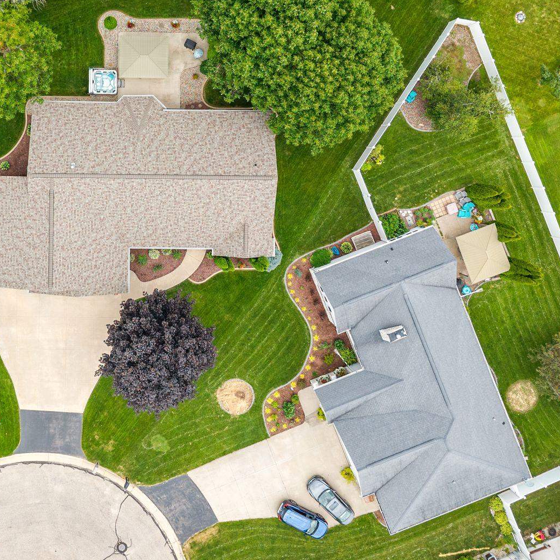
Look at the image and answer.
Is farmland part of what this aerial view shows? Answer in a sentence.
No, the scene doesn't show any farmland.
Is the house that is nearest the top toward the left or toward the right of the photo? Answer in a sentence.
The house that is nearest the top sits on the left side.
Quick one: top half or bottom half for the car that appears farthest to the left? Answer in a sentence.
You can find the car that appears farthest to the left in the bottom half.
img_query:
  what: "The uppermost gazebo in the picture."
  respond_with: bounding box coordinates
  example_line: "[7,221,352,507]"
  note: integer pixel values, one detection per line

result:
[119,32,169,80]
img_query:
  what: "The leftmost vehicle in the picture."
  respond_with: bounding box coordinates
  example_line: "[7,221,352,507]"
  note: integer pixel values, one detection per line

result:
[279,503,330,542]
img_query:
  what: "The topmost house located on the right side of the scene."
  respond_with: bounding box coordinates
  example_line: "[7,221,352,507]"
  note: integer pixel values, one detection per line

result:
[310,224,534,536]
